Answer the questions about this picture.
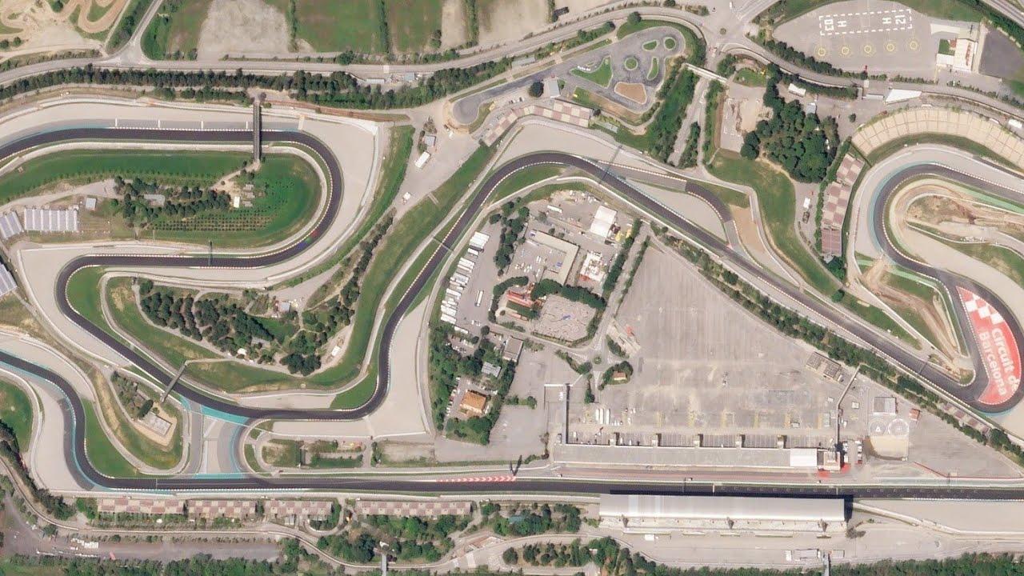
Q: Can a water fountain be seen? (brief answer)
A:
No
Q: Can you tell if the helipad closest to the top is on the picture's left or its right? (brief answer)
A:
right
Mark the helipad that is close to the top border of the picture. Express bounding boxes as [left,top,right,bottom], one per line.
[772,0,977,81]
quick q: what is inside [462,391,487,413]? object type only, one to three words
house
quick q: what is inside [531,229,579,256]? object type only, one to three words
building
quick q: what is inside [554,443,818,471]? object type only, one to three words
building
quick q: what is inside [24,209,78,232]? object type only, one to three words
greenhouse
